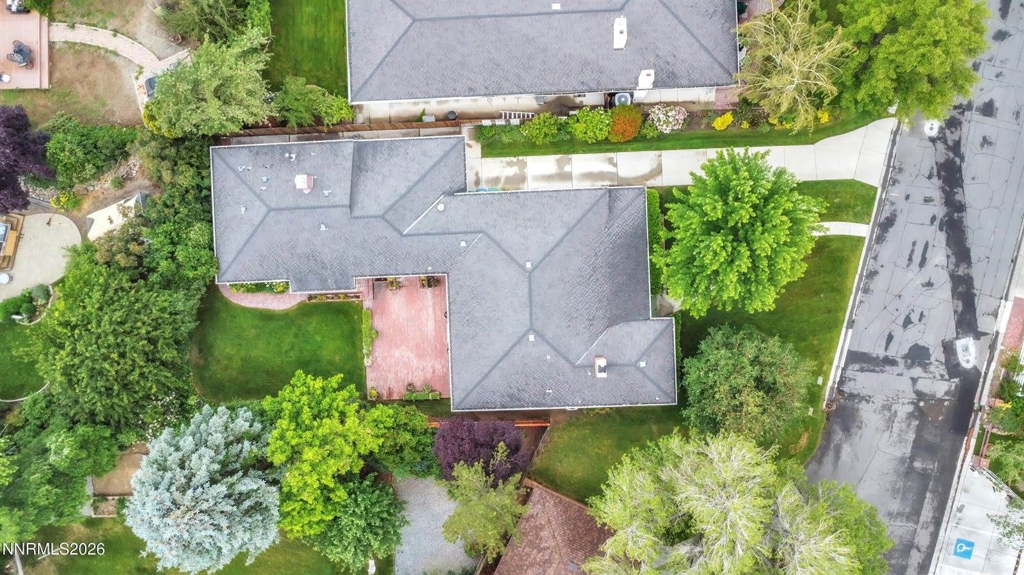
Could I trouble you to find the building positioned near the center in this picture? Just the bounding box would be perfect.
[208,133,679,412]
